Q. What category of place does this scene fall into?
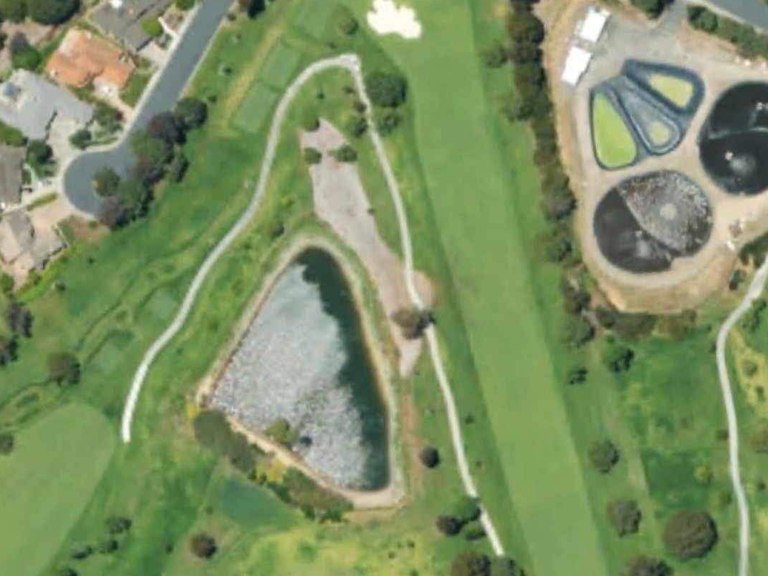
golf course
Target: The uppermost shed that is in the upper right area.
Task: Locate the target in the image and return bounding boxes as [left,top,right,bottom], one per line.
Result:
[580,9,610,42]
